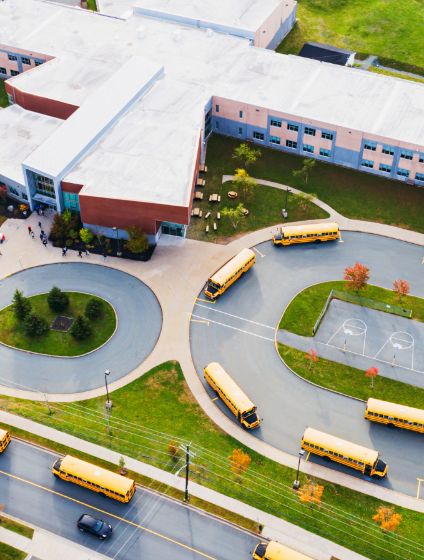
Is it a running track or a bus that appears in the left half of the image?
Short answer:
bus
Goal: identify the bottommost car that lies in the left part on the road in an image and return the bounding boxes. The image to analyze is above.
[76,514,111,539]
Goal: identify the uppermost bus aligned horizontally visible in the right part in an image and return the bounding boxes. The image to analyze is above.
[271,224,340,250]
